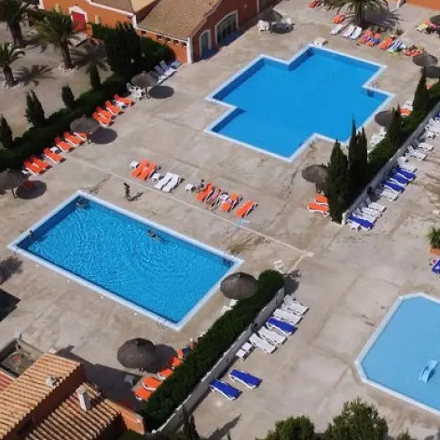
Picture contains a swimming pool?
Yes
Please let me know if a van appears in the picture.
No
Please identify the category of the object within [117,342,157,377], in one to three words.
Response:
umbrella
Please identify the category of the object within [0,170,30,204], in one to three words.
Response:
umbrella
